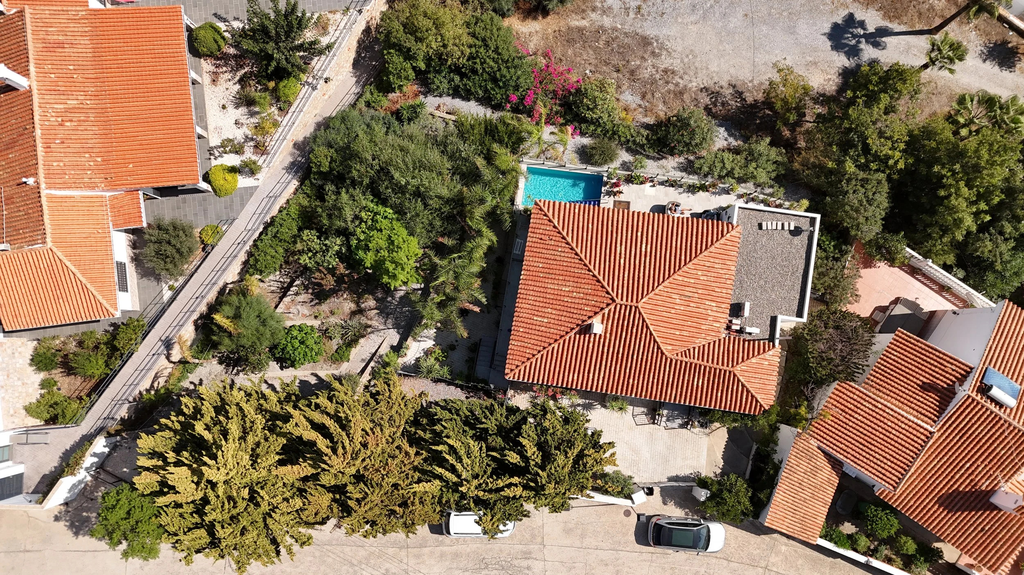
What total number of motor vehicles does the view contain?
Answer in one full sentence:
There are 2 motor vehicles in the image.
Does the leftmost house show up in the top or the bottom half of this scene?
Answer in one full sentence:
The bottom half of the photo is where the leftmost house is.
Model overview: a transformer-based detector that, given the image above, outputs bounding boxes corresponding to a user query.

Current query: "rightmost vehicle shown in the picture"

[647,515,725,557]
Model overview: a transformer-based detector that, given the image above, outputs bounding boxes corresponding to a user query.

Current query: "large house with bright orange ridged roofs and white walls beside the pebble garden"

[0,0,209,337]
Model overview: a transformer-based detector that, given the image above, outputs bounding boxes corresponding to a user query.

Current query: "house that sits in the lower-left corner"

[0,443,31,515]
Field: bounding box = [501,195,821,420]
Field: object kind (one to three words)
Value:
house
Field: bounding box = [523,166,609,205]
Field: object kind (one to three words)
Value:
swimming pool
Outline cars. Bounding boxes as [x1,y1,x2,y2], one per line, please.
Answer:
[647,515,725,557]
[443,507,516,545]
